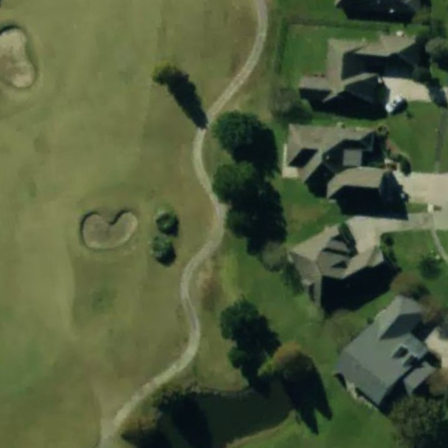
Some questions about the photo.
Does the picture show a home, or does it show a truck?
home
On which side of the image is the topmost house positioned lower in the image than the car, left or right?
right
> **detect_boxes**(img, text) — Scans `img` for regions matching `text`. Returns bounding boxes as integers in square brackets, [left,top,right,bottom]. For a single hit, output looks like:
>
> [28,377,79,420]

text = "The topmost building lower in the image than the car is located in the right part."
[288,124,393,206]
